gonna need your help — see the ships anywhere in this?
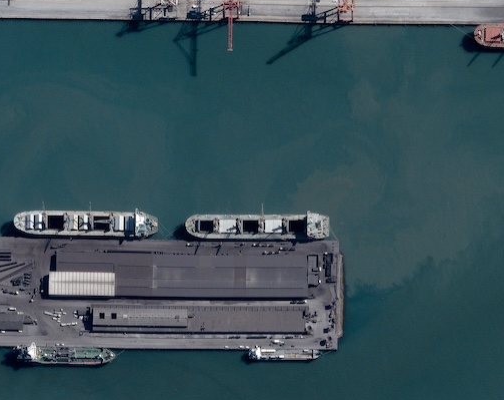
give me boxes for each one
[242,346,329,360]
[7,344,123,365]
[173,202,338,242]
[473,23,504,50]
[2,202,168,238]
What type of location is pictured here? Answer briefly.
port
